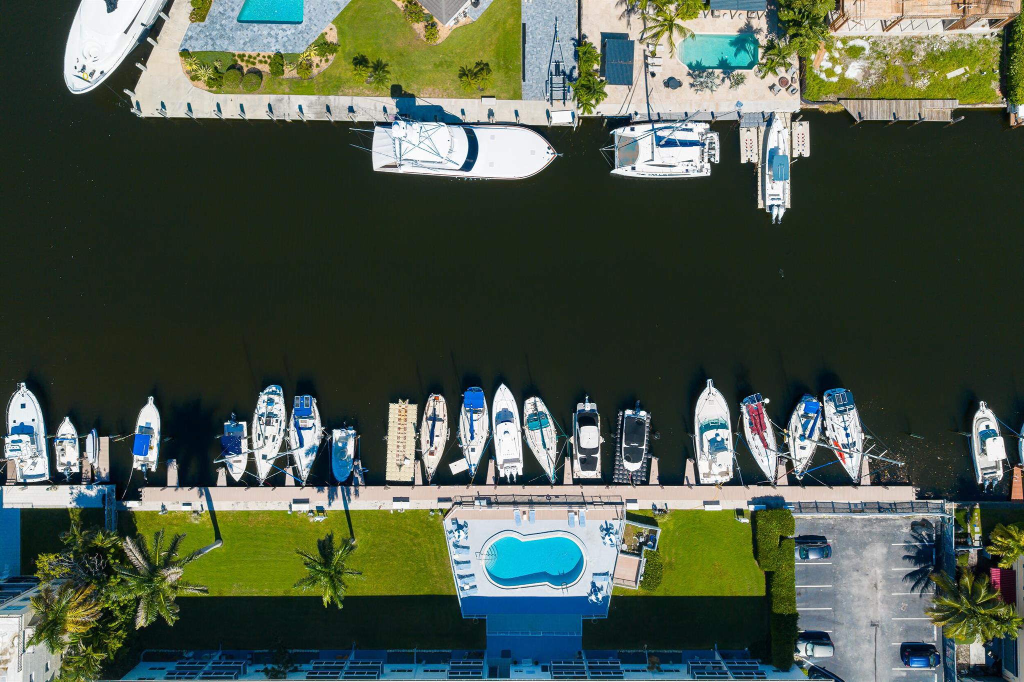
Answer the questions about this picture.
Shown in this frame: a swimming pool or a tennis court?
swimming pool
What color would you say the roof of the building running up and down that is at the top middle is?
blue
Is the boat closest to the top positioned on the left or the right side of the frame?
left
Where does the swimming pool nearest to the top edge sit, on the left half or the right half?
left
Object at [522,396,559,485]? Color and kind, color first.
white boat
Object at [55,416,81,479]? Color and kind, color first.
white boat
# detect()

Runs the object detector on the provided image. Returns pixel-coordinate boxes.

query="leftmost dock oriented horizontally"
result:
[2,484,118,508]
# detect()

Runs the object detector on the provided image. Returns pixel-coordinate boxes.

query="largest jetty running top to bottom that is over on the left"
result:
[386,399,418,480]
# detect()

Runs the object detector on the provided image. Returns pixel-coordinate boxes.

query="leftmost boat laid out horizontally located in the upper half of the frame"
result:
[349,109,563,179]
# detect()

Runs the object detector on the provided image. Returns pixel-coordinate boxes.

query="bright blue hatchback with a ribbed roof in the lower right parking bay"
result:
[900,649,939,668]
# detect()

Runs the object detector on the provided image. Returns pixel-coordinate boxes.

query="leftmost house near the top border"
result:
[418,0,473,28]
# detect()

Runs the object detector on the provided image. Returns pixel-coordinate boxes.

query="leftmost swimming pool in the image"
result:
[234,0,306,27]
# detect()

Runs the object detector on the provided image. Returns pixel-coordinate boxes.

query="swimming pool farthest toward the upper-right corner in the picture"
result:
[674,30,762,72]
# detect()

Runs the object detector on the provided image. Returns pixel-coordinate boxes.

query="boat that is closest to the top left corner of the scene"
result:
[61,0,177,94]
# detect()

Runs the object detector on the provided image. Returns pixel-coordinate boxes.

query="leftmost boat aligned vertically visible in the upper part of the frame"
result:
[706,131,720,164]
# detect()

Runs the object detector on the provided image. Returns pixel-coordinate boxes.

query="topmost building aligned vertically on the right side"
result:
[605,31,635,91]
